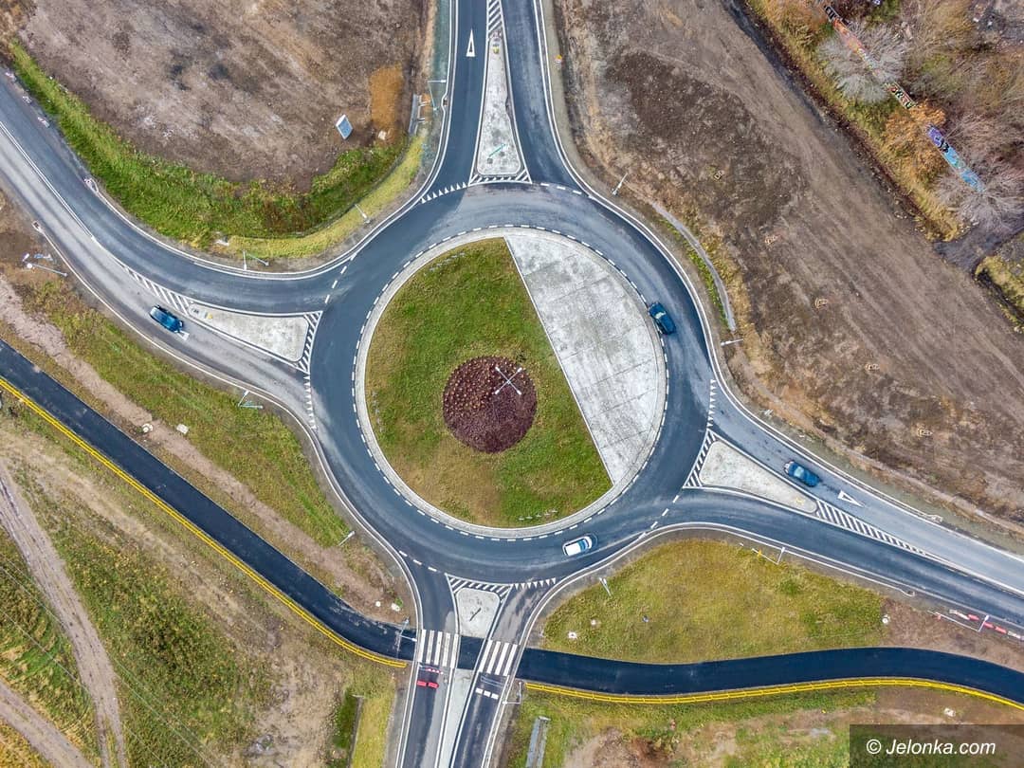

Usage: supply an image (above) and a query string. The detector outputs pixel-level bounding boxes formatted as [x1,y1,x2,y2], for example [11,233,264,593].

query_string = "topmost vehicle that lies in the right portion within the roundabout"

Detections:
[648,299,678,337]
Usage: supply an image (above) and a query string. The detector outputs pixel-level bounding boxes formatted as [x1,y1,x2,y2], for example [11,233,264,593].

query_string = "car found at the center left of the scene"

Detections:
[148,305,184,331]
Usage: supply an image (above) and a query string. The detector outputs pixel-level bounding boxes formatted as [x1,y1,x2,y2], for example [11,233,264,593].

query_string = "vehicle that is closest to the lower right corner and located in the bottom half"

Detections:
[784,460,824,488]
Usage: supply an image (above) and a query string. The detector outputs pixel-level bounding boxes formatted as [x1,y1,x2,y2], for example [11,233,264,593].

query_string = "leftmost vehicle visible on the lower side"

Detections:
[564,535,594,557]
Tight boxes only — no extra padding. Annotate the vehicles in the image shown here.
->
[784,460,824,488]
[148,305,184,331]
[564,535,594,557]
[648,299,678,337]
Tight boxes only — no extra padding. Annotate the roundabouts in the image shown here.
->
[303,180,718,590]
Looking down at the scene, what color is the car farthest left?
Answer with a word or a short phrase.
blue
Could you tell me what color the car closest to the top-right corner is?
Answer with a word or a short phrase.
blue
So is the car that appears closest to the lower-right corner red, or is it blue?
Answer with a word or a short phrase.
blue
